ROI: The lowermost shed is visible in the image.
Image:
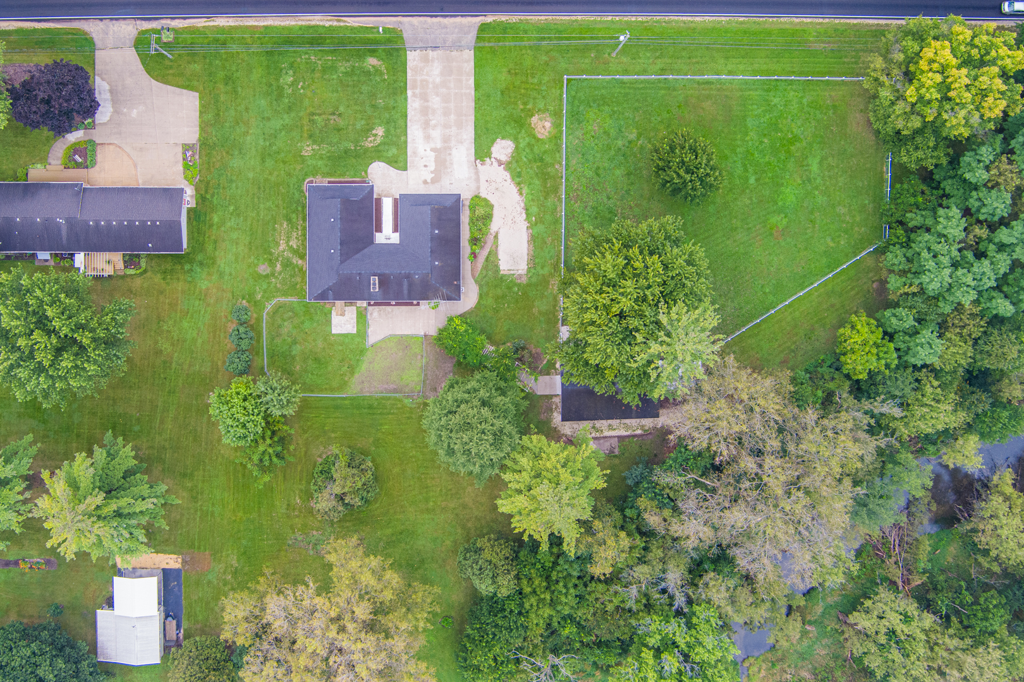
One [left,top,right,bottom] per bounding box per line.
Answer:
[97,608,162,664]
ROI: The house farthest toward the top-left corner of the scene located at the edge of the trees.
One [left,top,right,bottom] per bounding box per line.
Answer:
[0,182,187,253]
